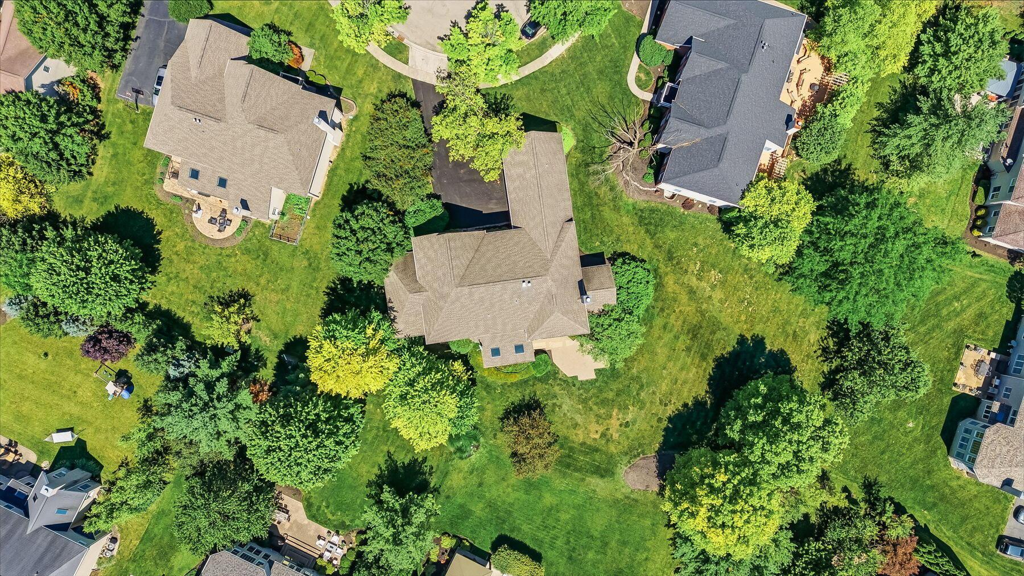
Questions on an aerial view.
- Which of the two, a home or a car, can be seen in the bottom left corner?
home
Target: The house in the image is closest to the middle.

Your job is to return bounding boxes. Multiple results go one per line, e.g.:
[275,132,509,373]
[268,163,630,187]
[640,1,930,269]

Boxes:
[385,131,617,368]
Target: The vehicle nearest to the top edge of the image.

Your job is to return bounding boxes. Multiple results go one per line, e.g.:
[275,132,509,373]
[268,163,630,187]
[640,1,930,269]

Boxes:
[519,10,544,47]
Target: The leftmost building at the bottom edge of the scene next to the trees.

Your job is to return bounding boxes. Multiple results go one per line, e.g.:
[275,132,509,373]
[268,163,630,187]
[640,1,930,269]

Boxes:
[0,458,113,576]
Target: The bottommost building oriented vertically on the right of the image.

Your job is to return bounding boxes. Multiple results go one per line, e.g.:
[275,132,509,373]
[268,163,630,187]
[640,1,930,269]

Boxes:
[947,321,1024,507]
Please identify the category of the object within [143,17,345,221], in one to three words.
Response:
house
